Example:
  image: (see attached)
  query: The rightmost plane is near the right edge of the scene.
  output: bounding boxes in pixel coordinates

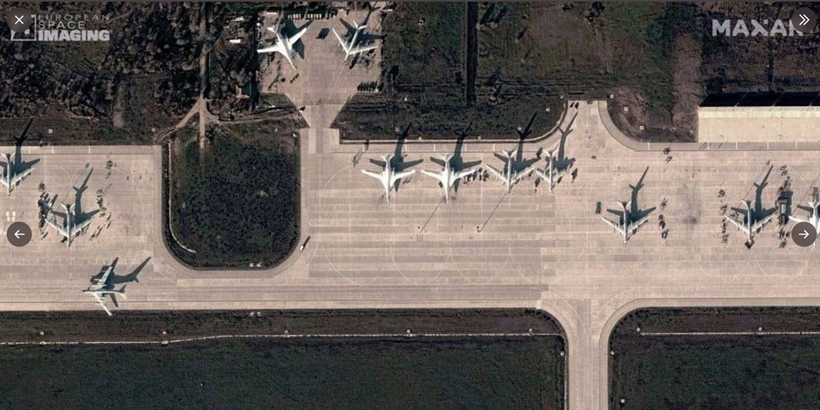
[787,202,820,250]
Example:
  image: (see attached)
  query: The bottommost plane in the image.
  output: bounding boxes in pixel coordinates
[82,266,128,316]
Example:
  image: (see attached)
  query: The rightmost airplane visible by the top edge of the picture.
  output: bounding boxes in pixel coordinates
[333,16,380,62]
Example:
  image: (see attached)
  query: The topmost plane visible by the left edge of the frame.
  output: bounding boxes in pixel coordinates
[0,150,34,199]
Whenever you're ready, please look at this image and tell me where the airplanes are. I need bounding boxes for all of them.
[361,154,416,203]
[787,202,820,250]
[534,146,569,192]
[420,154,474,203]
[82,266,128,316]
[484,147,533,195]
[725,197,775,243]
[257,24,306,70]
[601,198,651,247]
[43,199,93,247]
[333,16,380,62]
[0,150,34,199]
